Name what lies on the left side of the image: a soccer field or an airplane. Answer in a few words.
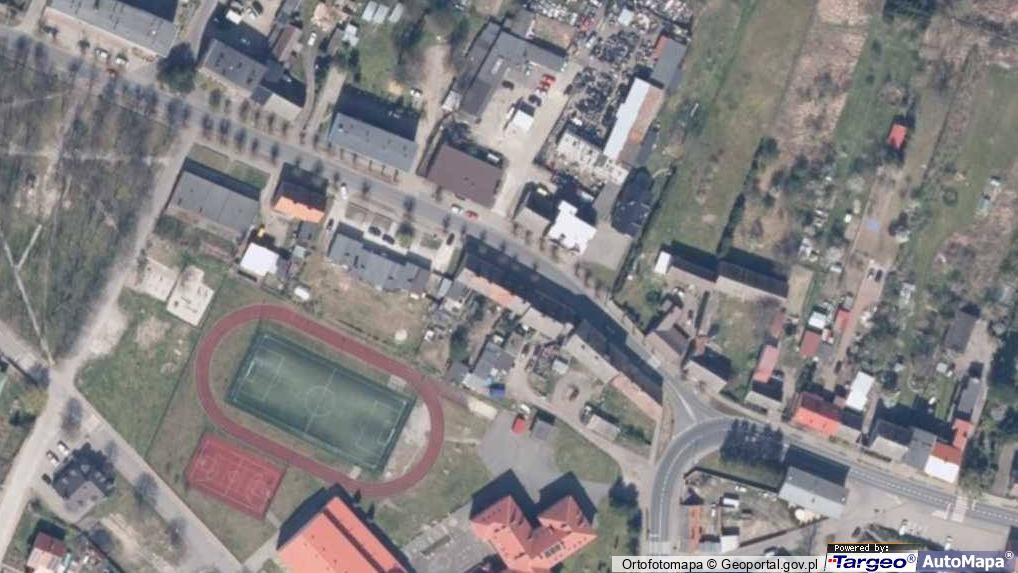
soccer field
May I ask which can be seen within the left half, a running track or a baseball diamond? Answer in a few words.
running track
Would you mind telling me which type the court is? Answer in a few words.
basketball court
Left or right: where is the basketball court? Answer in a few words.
left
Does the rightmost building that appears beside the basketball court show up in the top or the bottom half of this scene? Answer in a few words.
bottom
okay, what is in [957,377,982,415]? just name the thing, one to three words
shed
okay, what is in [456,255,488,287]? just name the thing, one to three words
house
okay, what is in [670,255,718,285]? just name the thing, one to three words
barn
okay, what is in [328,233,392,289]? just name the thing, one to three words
building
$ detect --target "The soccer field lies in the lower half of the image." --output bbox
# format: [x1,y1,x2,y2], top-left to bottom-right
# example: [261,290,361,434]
[228,331,412,473]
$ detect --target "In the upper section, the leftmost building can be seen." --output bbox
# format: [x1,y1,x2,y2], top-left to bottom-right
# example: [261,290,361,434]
[47,0,179,57]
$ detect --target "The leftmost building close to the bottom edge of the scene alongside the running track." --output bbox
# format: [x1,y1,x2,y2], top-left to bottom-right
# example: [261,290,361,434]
[278,496,411,573]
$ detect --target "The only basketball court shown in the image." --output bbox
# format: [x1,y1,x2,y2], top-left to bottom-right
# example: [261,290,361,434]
[185,434,284,518]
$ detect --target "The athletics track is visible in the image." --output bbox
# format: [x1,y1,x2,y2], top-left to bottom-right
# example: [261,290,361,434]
[196,303,444,495]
